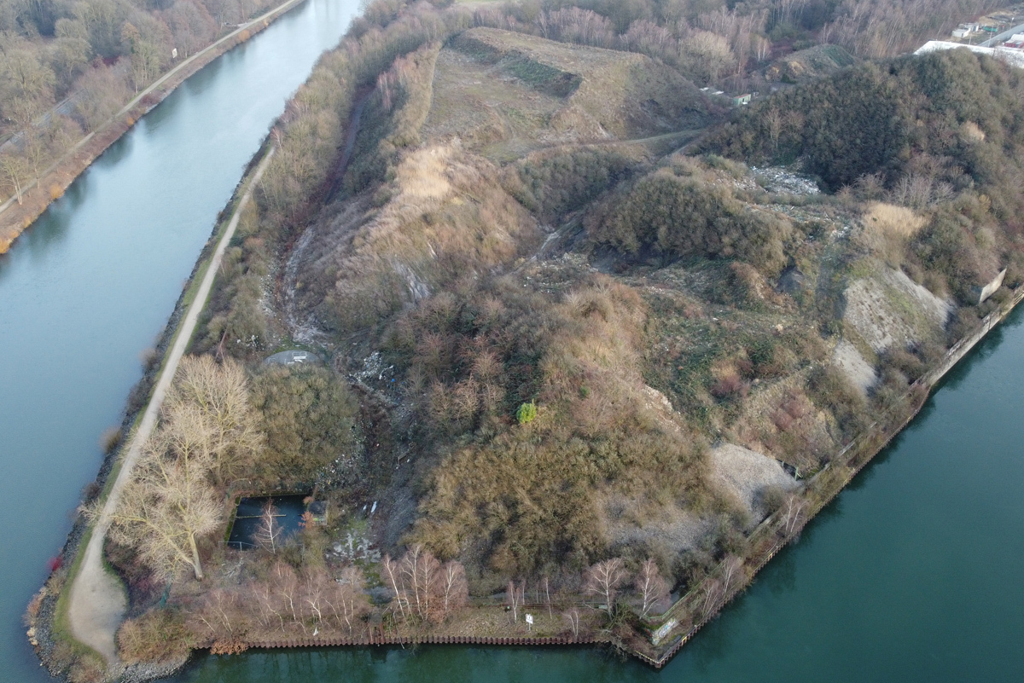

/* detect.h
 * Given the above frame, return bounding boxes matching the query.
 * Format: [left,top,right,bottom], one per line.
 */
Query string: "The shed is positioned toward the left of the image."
[306,502,331,525]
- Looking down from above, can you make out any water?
Yes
